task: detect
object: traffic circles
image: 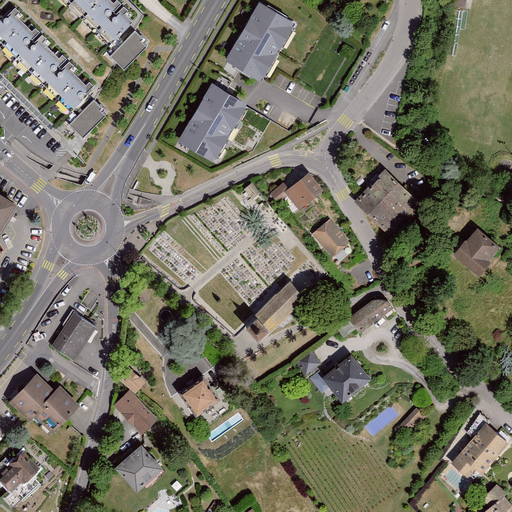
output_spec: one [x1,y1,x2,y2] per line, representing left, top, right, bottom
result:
[50,190,124,264]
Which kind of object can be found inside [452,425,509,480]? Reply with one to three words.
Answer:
house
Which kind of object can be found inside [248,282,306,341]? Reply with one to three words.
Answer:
building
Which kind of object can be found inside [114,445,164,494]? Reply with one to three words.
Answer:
house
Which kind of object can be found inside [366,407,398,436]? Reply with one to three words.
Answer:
swimming pool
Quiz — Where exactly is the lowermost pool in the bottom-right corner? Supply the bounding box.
[444,468,463,488]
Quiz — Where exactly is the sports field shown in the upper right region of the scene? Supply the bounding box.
[444,0,512,162]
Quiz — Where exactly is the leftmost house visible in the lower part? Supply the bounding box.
[0,451,42,494]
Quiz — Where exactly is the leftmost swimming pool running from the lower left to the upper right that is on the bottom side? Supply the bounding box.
[210,413,244,442]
